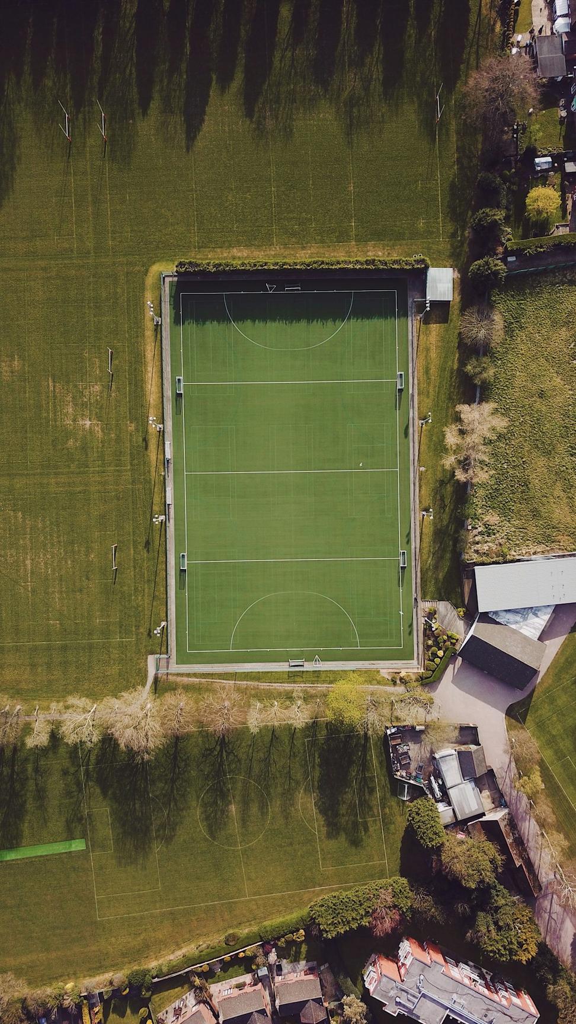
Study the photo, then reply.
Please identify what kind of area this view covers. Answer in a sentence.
This image shows a sports ground.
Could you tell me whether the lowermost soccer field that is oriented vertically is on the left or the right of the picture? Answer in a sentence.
The lowermost soccer field that is oriented vertically sits on the right side.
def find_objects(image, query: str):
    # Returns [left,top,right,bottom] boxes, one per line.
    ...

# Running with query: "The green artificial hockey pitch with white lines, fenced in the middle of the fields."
[163,272,427,674]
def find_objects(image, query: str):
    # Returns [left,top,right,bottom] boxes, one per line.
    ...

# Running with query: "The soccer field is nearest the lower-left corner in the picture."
[76,714,390,922]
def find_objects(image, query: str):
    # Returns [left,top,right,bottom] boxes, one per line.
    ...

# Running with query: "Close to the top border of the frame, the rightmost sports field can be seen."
[90,0,460,256]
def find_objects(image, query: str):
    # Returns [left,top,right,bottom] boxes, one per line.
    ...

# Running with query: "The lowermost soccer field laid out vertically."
[517,677,576,813]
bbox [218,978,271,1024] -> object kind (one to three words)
house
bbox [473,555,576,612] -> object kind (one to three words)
building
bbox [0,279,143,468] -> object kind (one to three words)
sports field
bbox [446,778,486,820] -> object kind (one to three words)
shed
